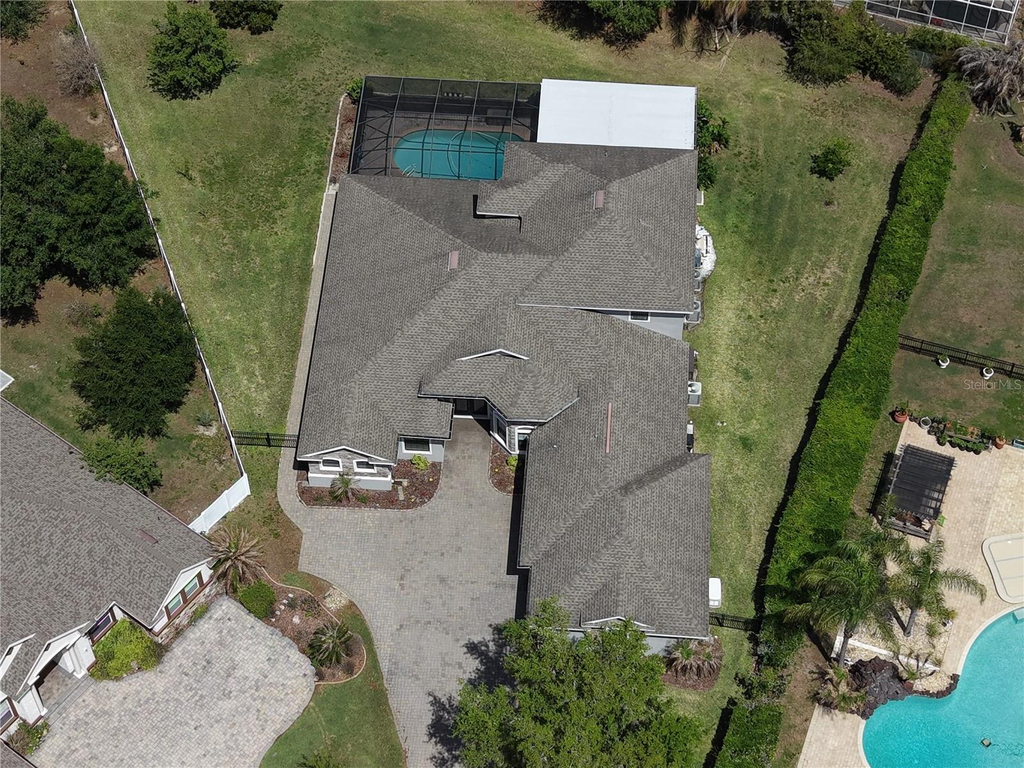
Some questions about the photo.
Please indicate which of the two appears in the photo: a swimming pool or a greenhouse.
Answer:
swimming pool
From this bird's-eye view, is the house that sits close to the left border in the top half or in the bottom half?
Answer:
bottom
